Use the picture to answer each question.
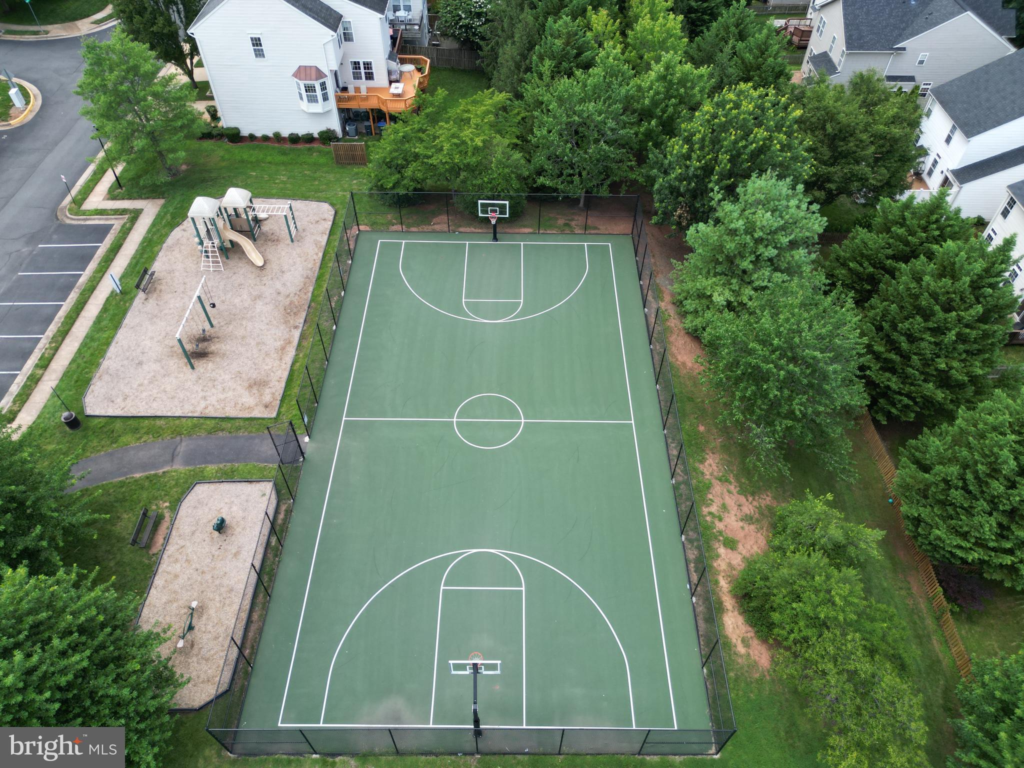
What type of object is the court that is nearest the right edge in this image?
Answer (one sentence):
In the photo, the court that is nearest the right edge shows up as a basketball court.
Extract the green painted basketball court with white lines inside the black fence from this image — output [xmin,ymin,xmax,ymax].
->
[236,232,719,756]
